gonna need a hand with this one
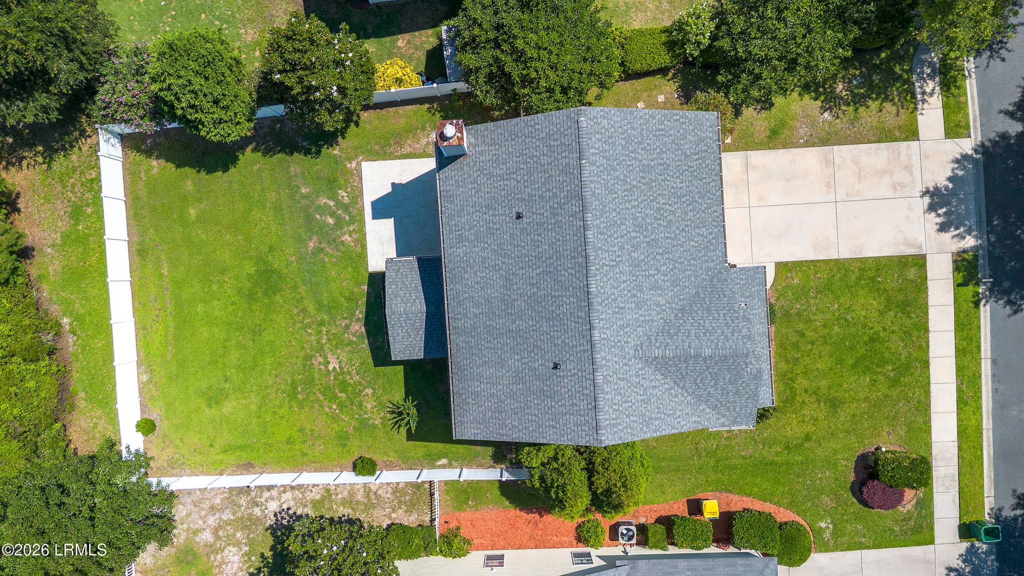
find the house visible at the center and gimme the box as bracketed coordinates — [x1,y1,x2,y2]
[385,105,775,447]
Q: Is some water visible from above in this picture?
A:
No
